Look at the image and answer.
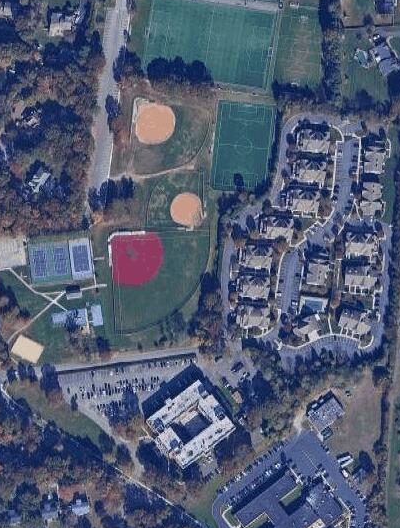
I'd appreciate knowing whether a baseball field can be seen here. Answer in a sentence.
Yes, a baseball field appears in the view.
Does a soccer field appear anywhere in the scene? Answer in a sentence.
Yes, there's a soccer field down there.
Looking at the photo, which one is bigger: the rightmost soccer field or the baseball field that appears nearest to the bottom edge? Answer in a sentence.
The baseball field takes up more space than the soccer field.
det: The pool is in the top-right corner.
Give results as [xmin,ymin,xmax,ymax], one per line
[356,47,369,66]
